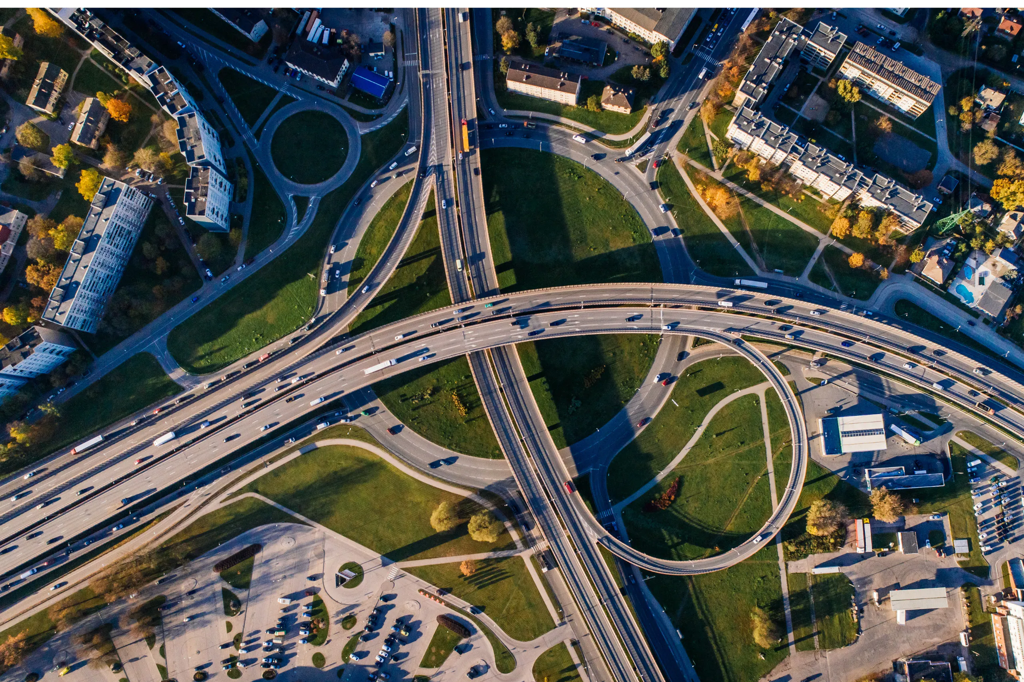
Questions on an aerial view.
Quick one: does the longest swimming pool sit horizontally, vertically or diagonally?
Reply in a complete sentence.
From this overhead view, the longest swimming pool appears to run diagonally.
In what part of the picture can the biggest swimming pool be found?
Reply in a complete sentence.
Look in the right portion of the view to spot the biggest swimming pool.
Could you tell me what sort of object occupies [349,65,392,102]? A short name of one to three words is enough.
building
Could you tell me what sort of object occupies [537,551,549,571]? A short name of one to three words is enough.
vehicle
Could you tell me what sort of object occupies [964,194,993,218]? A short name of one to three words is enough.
shed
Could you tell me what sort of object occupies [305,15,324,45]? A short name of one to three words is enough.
vehicle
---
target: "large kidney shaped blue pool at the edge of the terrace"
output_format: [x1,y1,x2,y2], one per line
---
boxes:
[955,283,975,304]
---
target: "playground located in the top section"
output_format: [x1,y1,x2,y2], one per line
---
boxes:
[805,94,830,122]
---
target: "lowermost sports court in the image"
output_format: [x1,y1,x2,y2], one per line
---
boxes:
[873,132,931,172]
